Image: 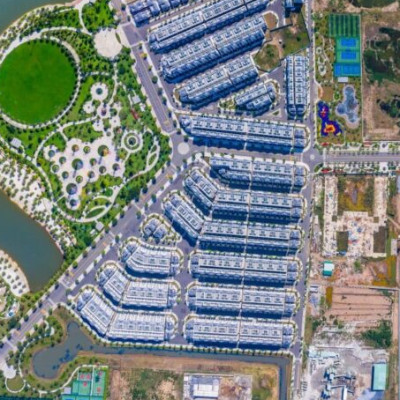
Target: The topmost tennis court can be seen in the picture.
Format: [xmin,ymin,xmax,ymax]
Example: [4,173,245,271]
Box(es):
[336,37,361,63]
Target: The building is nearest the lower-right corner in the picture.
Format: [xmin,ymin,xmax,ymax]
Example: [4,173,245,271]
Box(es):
[373,364,387,392]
